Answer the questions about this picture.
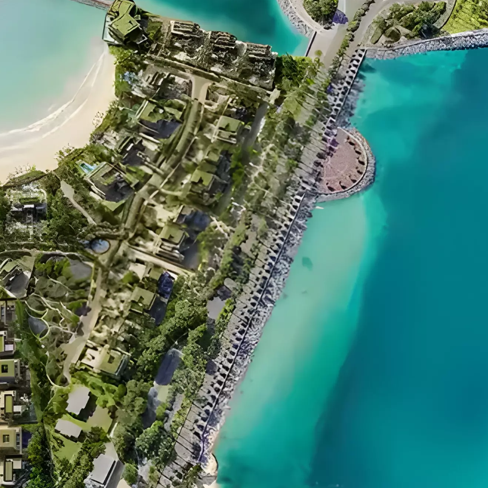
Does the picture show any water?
Yes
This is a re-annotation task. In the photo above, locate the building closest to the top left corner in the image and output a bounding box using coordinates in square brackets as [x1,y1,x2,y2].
[103,0,148,50]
